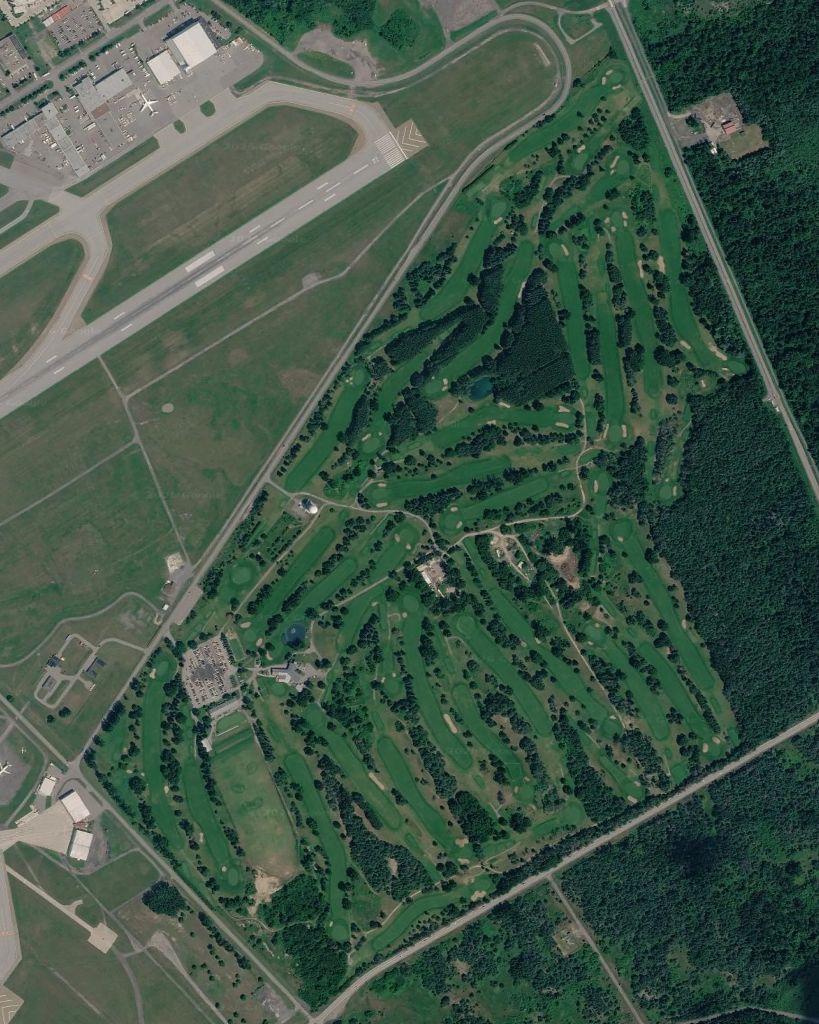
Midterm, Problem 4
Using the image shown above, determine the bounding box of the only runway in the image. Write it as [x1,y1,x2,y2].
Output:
[0,132,407,418]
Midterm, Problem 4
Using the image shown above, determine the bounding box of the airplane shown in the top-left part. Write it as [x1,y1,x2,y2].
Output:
[141,94,157,113]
